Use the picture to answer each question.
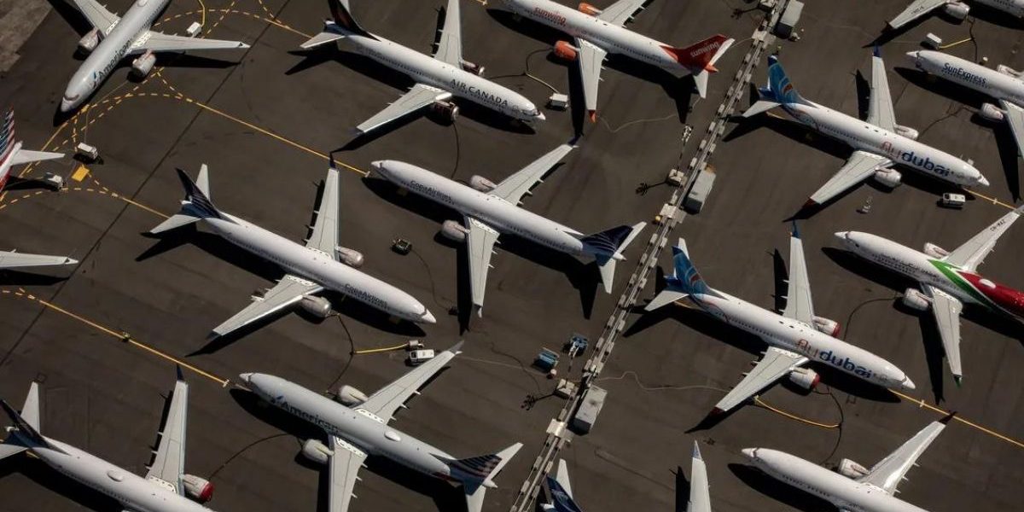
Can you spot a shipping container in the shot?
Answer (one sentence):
Yes, there is a shipping container in the image.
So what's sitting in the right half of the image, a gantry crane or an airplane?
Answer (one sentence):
The one visible in the right half of the image is an airplane.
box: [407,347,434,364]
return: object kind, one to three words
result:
vehicle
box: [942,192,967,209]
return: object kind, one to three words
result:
vehicle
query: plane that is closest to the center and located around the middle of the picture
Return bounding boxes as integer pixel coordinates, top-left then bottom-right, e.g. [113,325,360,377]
[371,132,646,317]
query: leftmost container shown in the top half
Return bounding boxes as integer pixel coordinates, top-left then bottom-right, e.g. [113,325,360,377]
[685,171,716,211]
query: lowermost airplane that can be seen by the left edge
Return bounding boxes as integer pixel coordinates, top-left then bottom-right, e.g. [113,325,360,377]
[0,364,218,512]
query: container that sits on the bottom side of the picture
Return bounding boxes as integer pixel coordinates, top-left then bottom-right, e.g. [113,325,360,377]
[574,385,608,434]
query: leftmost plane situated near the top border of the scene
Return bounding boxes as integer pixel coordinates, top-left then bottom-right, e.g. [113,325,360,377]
[61,0,248,111]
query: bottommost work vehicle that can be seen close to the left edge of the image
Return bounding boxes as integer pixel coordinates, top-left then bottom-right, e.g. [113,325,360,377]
[43,173,65,190]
